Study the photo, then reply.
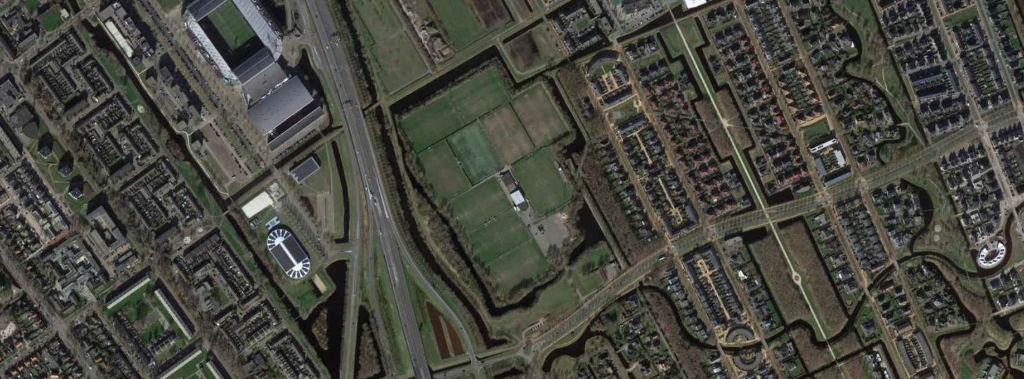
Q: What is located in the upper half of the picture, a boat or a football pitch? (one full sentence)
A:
The one visible in the upper half of the picture is a football pitch.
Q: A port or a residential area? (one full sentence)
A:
This image shows a residential area.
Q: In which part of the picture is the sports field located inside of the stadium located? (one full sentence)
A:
The sports field located inside of the stadium is in the top left part of the image.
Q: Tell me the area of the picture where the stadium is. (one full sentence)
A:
You can find the stadium in the top left area of the picture.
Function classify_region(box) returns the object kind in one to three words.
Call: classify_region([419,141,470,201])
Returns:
soccer field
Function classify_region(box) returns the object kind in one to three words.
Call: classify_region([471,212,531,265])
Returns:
soccer field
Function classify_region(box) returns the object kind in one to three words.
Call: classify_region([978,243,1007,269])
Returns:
building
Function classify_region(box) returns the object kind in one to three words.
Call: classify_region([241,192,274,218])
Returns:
building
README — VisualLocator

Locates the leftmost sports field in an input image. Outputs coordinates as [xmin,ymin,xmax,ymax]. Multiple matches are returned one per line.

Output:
[206,6,256,60]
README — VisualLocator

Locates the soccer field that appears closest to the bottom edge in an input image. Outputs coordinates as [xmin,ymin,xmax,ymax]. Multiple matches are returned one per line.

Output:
[487,241,549,293]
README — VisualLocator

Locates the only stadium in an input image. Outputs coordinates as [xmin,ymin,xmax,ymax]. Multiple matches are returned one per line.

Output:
[184,0,284,85]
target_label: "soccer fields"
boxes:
[471,212,531,265]
[483,105,534,165]
[487,241,549,293]
[513,147,571,214]
[513,85,568,146]
[452,176,511,231]
[419,141,470,201]
[446,121,502,185]
[402,96,464,153]
[448,66,511,122]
